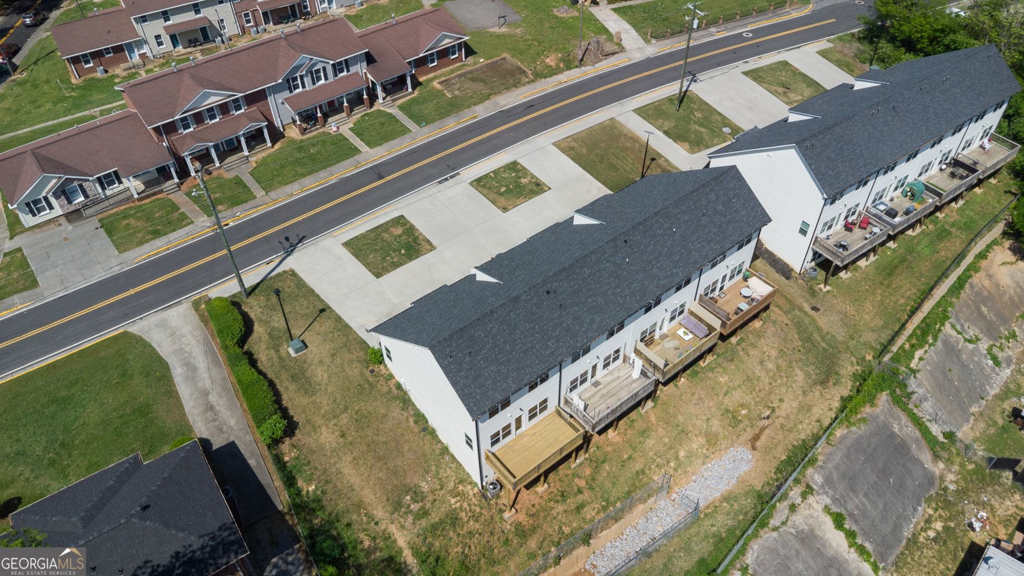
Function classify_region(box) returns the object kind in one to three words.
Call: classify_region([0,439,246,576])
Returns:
house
